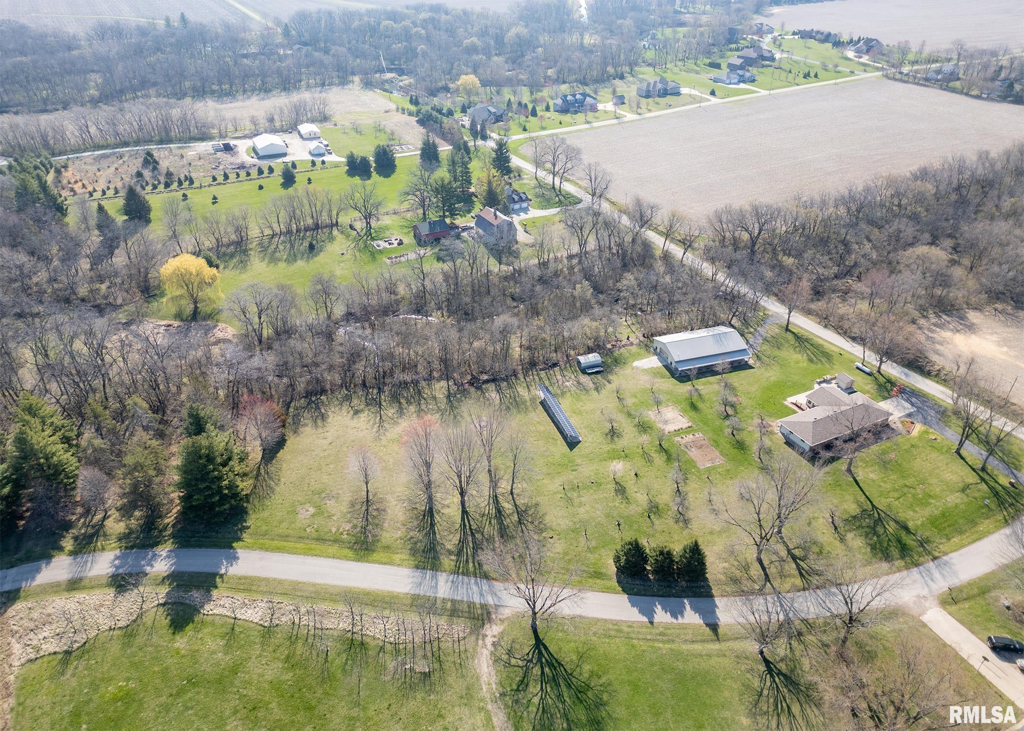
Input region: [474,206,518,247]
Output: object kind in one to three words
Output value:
barn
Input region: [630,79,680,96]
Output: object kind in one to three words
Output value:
house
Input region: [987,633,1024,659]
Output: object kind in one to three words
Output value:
car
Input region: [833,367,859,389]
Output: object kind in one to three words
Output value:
shed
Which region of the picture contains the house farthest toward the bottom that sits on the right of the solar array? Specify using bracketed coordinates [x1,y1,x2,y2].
[776,383,895,454]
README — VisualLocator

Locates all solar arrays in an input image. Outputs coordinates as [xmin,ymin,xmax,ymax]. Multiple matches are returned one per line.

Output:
[537,383,582,444]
